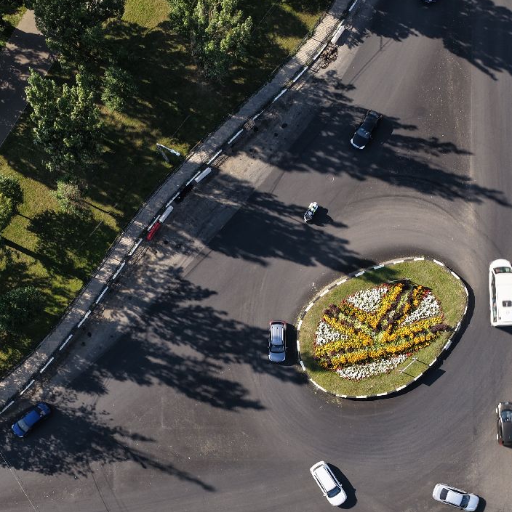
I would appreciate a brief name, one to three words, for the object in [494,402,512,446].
car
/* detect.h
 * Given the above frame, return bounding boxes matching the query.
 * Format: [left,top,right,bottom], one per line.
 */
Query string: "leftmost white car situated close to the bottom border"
[311,460,346,509]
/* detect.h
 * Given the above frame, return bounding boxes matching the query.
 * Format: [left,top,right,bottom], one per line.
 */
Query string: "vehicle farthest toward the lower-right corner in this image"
[431,483,480,512]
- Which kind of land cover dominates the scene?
paved ground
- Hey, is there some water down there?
No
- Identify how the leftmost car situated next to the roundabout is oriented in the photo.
vertically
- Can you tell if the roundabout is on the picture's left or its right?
right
